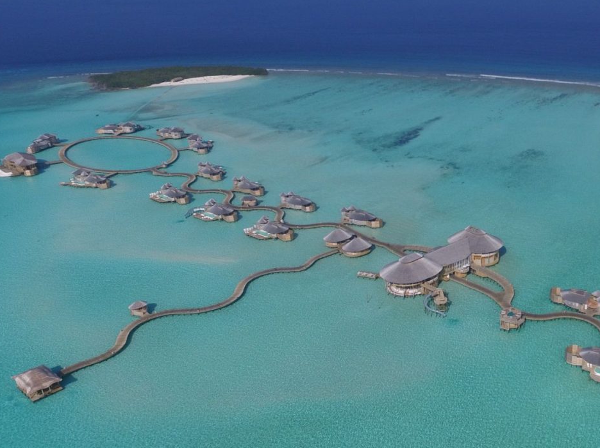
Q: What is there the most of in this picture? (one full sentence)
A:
What you mostly see from above here is water.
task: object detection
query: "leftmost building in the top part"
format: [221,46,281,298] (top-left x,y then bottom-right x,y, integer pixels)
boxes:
[0,156,39,179]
